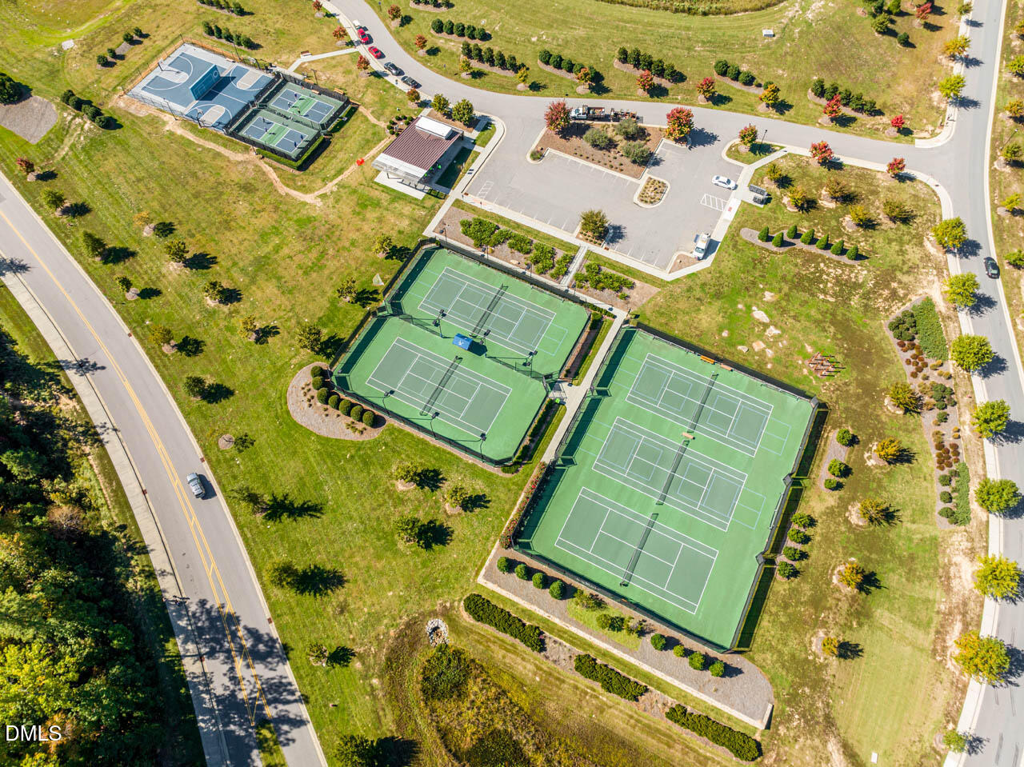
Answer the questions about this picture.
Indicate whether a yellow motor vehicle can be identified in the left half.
No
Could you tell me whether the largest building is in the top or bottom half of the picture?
top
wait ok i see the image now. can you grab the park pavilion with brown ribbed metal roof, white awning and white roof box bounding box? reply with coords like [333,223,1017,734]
[379,113,461,191]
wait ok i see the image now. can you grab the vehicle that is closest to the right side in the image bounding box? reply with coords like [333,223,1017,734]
[984,259,999,279]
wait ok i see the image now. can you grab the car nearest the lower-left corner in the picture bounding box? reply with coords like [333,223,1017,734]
[187,472,207,501]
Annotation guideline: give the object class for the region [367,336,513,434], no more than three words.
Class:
tennis court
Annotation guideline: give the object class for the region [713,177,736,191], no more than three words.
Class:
car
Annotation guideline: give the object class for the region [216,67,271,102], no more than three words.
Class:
basketball court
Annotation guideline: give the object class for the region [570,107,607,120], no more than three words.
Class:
vehicle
